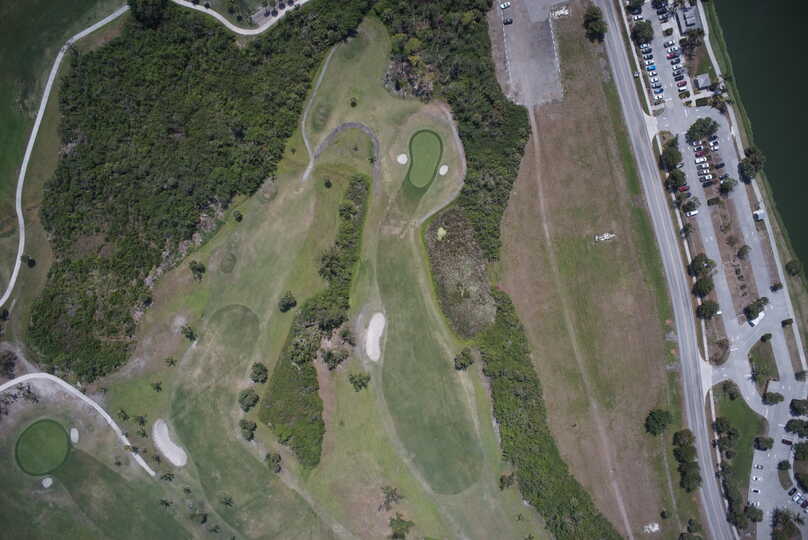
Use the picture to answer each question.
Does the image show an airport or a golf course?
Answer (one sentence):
The picture captures a golf course.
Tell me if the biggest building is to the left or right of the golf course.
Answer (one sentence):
You can see the biggest building positioned to the right of the golf course.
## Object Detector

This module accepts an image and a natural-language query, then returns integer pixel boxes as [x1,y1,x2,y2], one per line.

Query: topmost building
[675,6,703,36]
